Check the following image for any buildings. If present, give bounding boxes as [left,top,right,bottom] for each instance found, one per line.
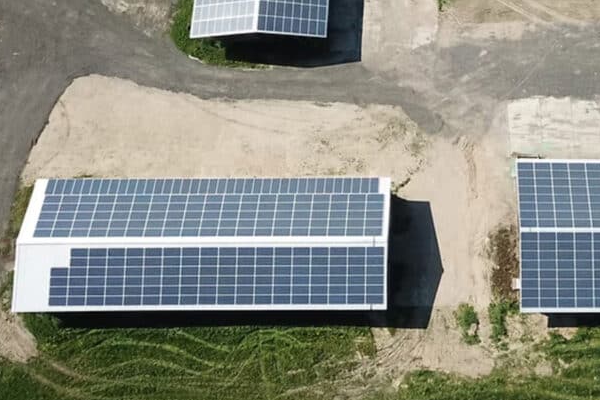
[11,177,391,313]
[513,159,600,314]
[190,0,330,45]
